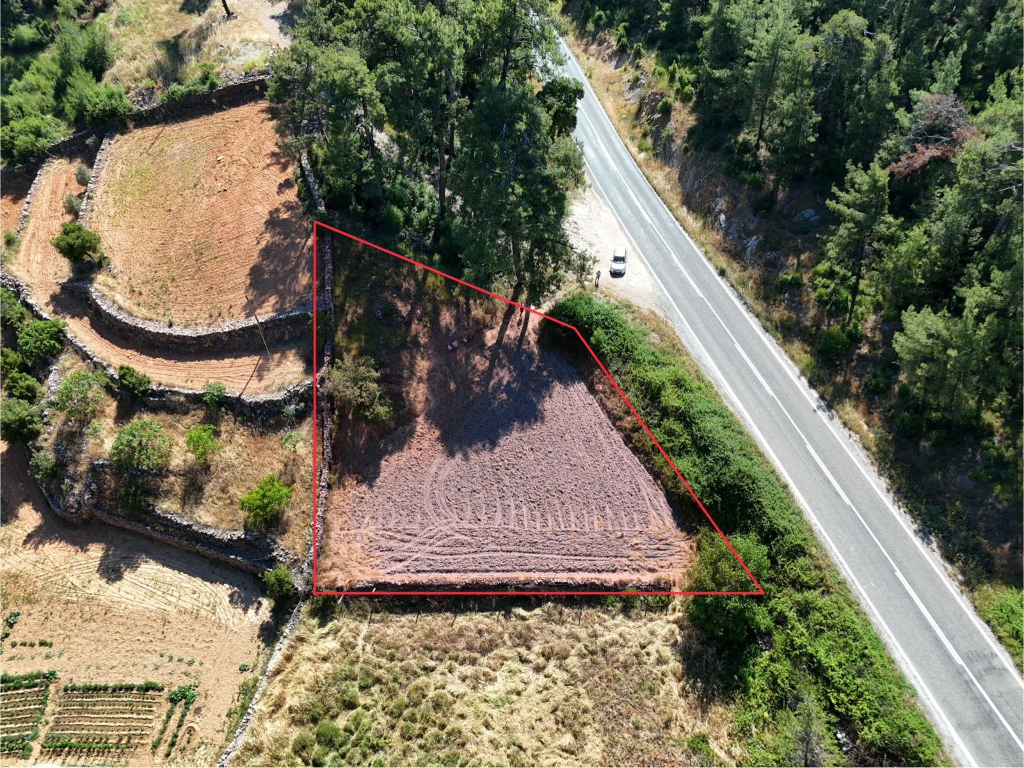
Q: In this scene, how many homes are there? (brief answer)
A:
zero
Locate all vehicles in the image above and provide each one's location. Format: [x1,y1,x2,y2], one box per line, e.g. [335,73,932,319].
[610,245,628,272]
